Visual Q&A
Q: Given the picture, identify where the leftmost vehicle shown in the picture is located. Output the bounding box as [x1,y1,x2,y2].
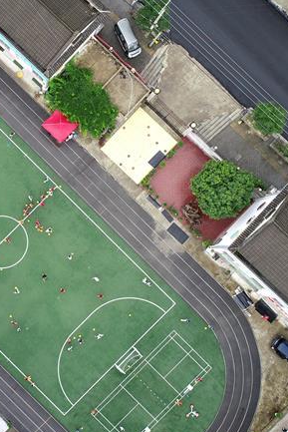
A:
[115,18,140,60]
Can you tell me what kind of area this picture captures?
sports ground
